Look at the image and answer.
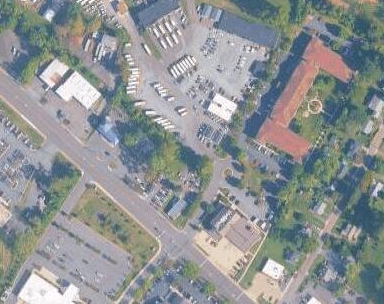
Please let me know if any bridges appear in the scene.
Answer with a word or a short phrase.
No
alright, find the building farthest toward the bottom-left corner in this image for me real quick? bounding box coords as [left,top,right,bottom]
[14,272,80,304]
